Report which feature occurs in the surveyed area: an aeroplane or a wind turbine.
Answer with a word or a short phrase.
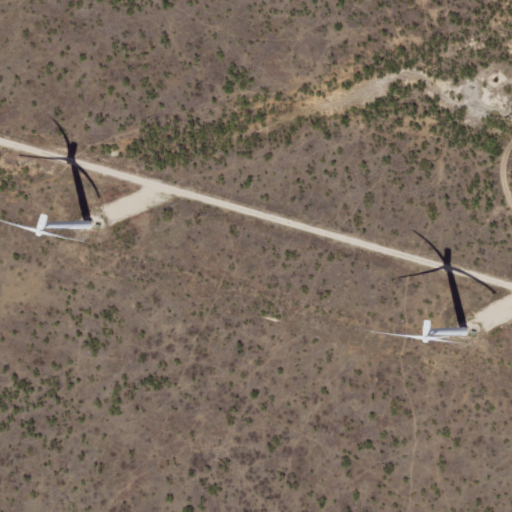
wind turbine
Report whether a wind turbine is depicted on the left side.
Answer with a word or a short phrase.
Yes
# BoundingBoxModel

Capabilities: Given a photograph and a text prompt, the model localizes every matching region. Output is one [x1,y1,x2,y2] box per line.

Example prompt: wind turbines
[378,321,482,345]
[0,212,94,238]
